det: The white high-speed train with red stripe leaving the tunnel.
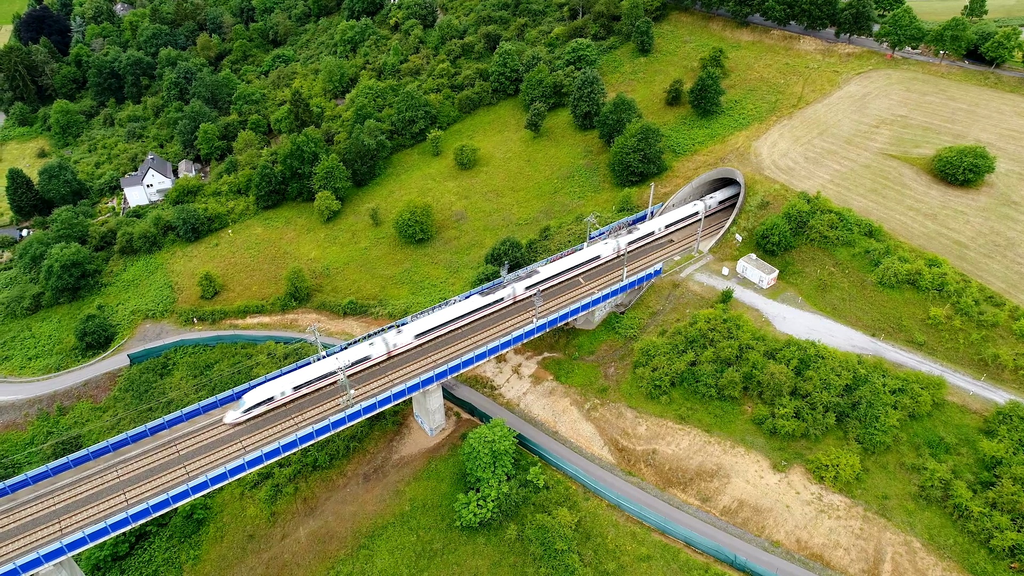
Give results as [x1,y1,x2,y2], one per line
[226,186,736,426]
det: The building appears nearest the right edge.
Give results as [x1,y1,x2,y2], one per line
[737,255,779,290]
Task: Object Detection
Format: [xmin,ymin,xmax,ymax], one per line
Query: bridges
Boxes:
[0,275,658,576]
